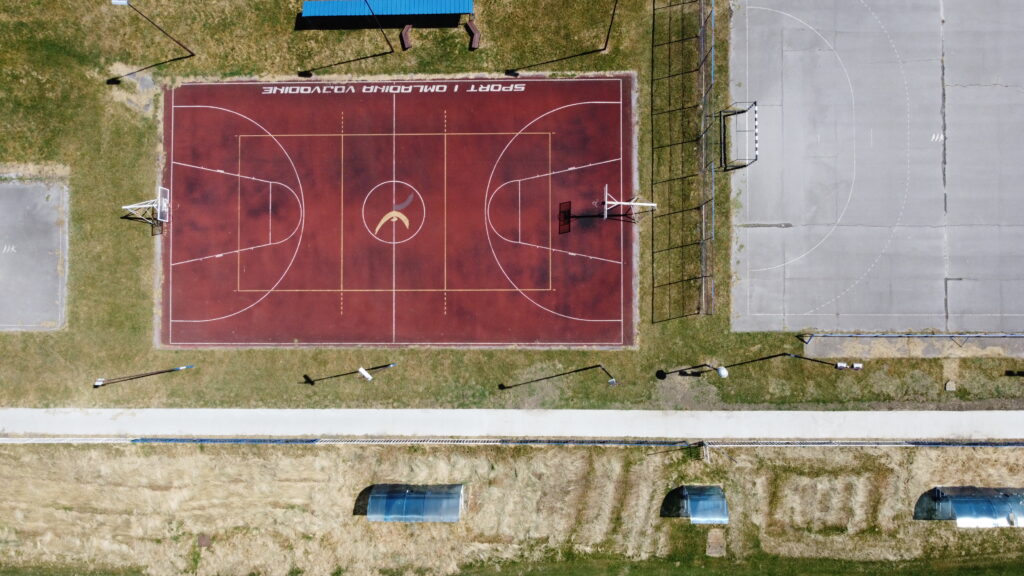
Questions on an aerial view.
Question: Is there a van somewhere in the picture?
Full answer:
No, the photo shows no van.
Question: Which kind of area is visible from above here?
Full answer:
The picture captures a sports ground.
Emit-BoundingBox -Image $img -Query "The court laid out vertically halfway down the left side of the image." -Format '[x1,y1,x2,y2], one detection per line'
[0,175,69,331]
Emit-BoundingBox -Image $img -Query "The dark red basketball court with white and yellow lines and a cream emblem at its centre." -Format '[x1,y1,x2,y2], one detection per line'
[155,77,637,349]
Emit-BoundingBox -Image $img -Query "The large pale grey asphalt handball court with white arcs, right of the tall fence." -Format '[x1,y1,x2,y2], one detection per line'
[731,0,1024,332]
